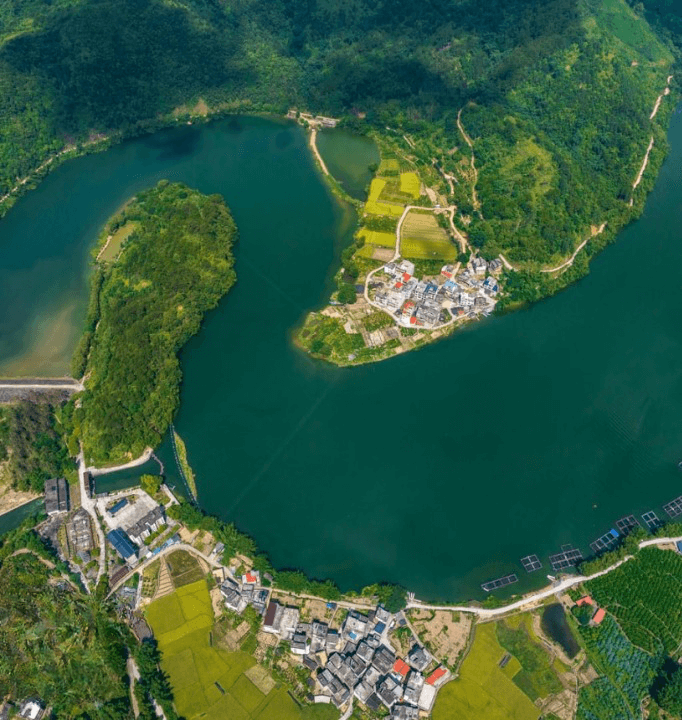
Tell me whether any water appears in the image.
Yes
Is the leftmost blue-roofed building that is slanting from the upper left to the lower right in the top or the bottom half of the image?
bottom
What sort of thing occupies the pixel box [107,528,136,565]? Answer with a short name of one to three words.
building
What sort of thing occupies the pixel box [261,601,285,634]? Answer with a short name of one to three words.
building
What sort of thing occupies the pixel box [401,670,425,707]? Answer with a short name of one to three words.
house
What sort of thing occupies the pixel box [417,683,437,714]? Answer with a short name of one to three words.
house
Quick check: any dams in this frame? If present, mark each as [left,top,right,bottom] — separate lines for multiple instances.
[0,381,86,406]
